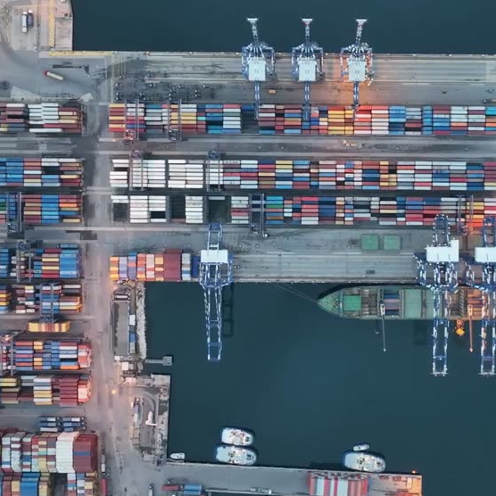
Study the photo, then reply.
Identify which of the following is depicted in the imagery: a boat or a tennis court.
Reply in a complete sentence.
I can see a boat in this picture.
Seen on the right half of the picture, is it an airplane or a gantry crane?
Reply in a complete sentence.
Looking on the right half of the picture, you will find a gantry crane.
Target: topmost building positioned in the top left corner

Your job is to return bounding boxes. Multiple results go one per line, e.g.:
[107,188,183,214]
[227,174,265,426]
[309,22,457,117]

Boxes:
[52,17,71,50]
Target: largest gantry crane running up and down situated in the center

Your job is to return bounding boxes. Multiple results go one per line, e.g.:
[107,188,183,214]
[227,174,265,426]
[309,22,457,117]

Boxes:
[196,222,241,361]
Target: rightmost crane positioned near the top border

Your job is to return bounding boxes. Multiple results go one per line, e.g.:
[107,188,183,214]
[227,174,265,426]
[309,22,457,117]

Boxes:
[334,14,373,118]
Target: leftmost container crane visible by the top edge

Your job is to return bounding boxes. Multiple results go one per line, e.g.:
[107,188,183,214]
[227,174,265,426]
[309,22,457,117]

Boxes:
[241,14,280,118]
